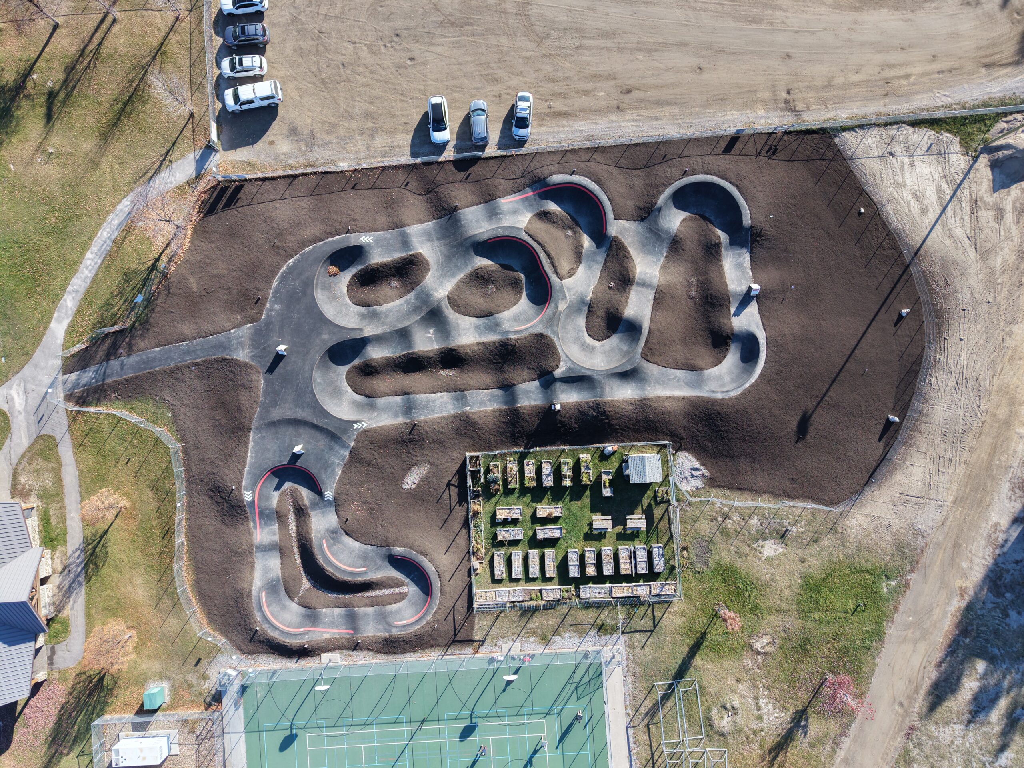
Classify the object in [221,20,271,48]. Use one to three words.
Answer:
car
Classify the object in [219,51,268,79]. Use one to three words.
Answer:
car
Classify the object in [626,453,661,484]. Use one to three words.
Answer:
shed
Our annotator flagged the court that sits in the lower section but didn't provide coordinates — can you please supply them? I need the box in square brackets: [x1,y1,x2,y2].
[241,649,608,768]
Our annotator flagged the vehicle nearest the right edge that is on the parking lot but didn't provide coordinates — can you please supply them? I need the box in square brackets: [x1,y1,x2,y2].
[511,89,534,140]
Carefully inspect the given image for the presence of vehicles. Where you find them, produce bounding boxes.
[222,78,283,113]
[218,0,269,16]
[511,89,534,140]
[219,51,268,79]
[427,94,451,145]
[467,97,491,144]
[221,20,271,48]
